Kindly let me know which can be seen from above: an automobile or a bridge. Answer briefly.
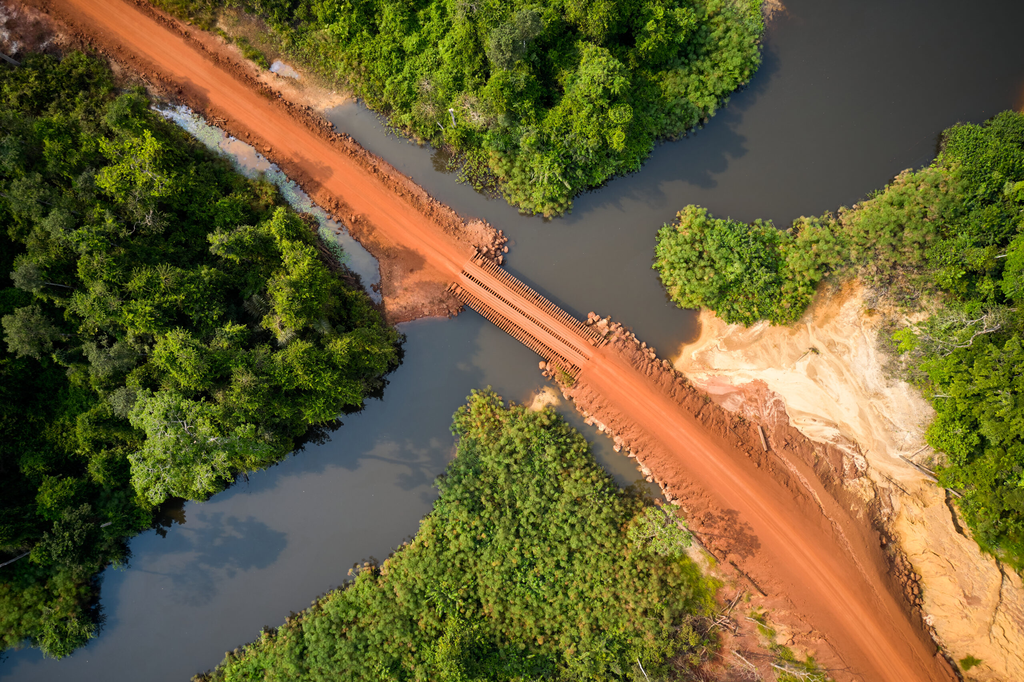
bridge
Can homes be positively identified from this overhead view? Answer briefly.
No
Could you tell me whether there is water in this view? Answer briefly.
Yes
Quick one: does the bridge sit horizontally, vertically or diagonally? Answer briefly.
diagonally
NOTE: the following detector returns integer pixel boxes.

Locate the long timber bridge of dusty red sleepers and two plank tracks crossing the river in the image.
[443,245,611,387]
